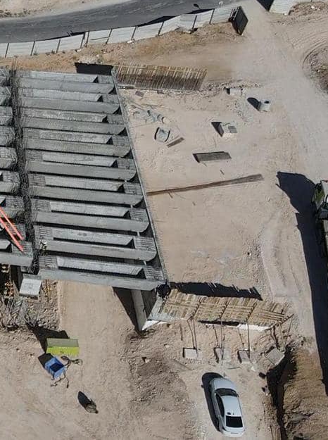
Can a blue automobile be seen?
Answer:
No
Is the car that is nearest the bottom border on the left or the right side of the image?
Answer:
right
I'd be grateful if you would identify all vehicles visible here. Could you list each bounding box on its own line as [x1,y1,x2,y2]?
[212,373,249,439]
[311,180,328,284]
